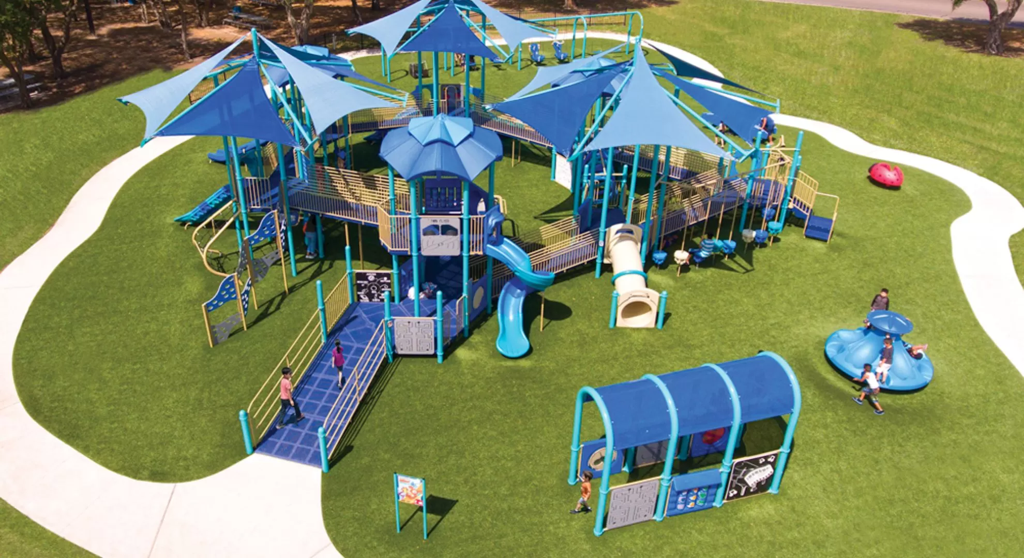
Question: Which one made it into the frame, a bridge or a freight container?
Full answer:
The image shows a bridge.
